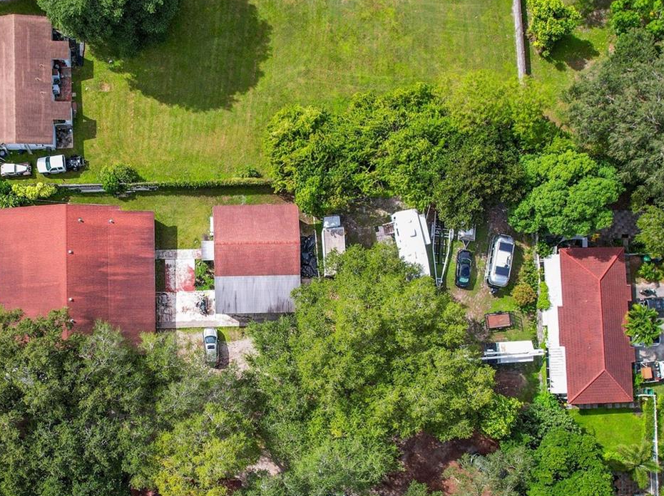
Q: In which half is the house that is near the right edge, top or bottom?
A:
bottom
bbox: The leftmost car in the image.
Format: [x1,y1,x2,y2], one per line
[0,163,30,179]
